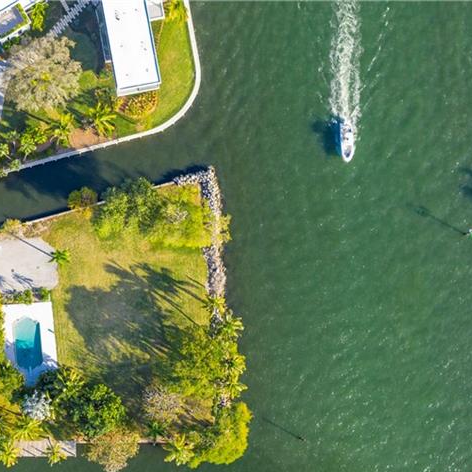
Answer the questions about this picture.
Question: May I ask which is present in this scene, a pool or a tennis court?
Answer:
pool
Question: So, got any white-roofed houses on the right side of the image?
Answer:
No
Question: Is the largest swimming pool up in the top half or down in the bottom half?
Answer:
bottom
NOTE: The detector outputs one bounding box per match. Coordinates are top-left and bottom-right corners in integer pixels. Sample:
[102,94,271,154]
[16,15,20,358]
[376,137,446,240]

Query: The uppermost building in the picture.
[0,0,54,46]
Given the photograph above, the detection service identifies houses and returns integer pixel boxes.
[99,0,164,102]
[0,0,54,46]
